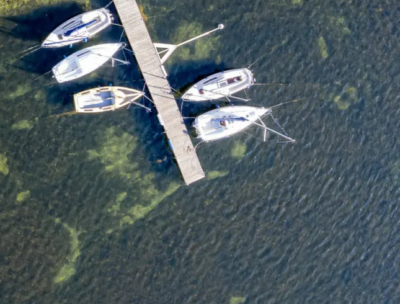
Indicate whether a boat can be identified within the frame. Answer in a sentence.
Yes, the frame does contain a boat.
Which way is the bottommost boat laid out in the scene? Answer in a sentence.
The bottommost boat has been laid out from left to right relative to the frame.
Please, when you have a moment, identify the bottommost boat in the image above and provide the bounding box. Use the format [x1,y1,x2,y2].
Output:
[185,99,300,143]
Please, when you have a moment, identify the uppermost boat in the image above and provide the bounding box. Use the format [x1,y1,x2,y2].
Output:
[19,2,117,56]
